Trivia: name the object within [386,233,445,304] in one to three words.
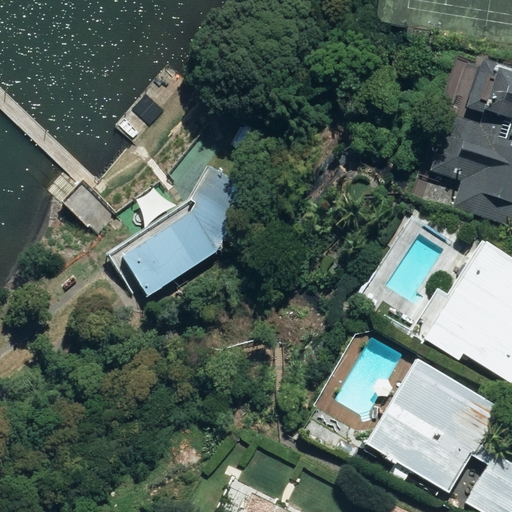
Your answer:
swimming pool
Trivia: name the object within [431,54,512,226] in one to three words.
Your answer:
house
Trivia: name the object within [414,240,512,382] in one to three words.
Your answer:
house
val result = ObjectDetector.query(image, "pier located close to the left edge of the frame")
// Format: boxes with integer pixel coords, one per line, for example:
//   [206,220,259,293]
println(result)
[0,85,97,184]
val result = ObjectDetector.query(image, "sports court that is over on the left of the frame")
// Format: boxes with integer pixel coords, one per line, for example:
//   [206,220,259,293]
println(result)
[171,137,214,200]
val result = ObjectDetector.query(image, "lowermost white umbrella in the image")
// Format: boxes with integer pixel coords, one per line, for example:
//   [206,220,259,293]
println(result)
[374,380,394,397]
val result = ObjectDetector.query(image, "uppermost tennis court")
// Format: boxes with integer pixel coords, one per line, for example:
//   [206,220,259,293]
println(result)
[379,0,512,41]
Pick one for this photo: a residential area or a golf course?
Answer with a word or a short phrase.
residential area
